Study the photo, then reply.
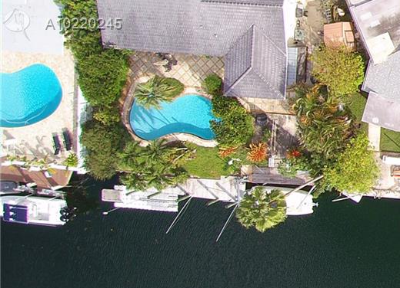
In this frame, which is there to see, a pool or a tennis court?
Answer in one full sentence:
The image shows a pool.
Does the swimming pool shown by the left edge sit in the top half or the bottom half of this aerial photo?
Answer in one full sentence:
The swimming pool shown by the left edge is in the top half of the image.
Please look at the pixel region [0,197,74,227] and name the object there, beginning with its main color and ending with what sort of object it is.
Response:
white boat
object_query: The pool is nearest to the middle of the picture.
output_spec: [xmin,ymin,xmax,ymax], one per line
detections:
[125,90,220,144]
